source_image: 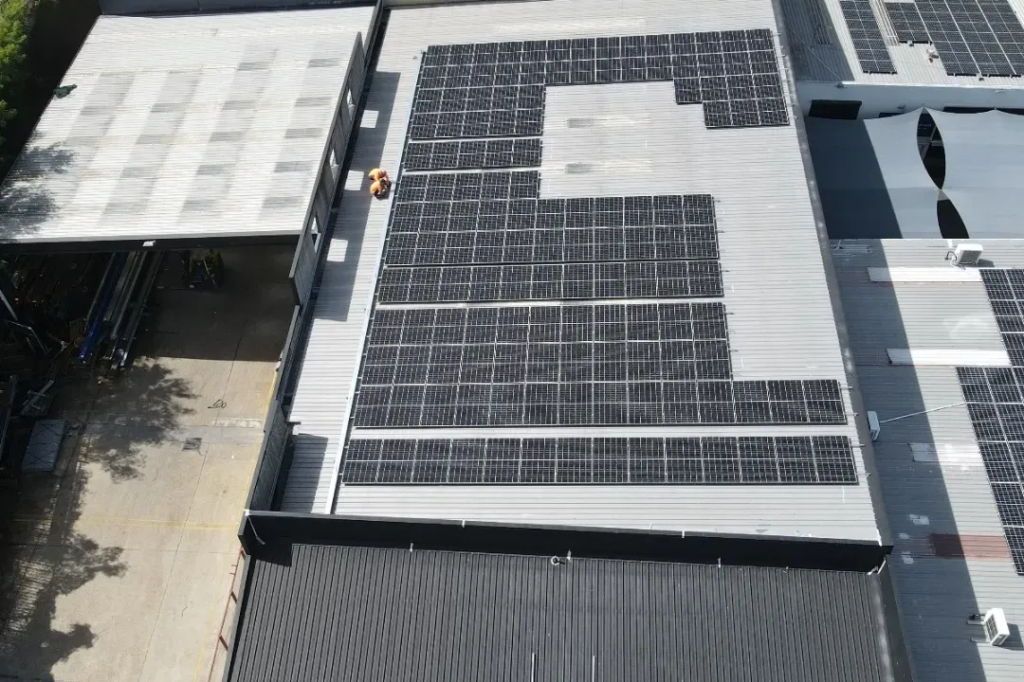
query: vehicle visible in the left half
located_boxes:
[180,250,221,308]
